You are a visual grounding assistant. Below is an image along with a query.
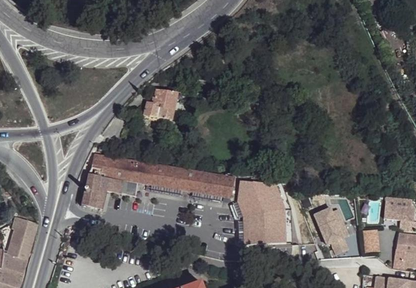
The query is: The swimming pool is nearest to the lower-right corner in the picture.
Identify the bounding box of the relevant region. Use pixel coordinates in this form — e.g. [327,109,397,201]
[368,200,382,224]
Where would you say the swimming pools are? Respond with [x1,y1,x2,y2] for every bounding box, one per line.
[330,198,354,222]
[368,200,382,224]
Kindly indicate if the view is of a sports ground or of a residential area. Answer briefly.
residential area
